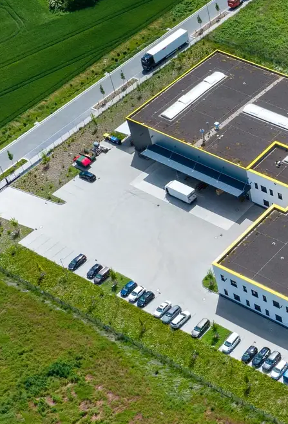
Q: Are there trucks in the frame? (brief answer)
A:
Yes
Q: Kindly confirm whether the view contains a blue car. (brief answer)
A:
Yes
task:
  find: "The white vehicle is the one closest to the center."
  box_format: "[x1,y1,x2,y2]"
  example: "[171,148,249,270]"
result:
[168,180,201,204]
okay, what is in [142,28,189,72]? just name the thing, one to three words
truck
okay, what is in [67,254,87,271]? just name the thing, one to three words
car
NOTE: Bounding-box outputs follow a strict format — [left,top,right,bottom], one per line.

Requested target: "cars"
[67,254,87,271]
[169,311,190,329]
[241,346,259,364]
[127,285,146,303]
[85,263,105,281]
[79,171,98,183]
[92,266,113,285]
[221,332,242,354]
[118,280,140,299]
[271,362,288,380]
[152,300,174,319]
[251,346,272,369]
[135,289,156,309]
[262,350,282,373]
[281,370,288,384]
[160,304,182,324]
[190,317,211,338]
